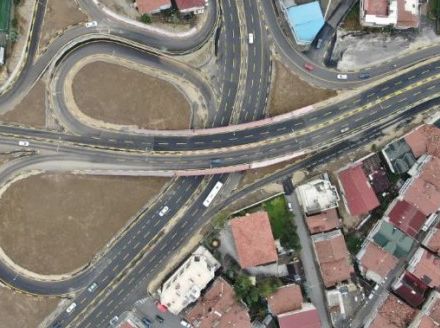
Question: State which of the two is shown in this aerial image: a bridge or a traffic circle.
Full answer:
This aerial view contains a bridge.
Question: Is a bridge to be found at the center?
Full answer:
Yes, there is a bridge at the center.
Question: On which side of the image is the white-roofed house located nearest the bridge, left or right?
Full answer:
The white-roofed house located nearest the bridge is on the right side of the image.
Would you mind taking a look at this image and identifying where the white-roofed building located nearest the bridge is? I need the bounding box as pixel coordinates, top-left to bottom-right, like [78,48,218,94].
[293,178,340,213]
